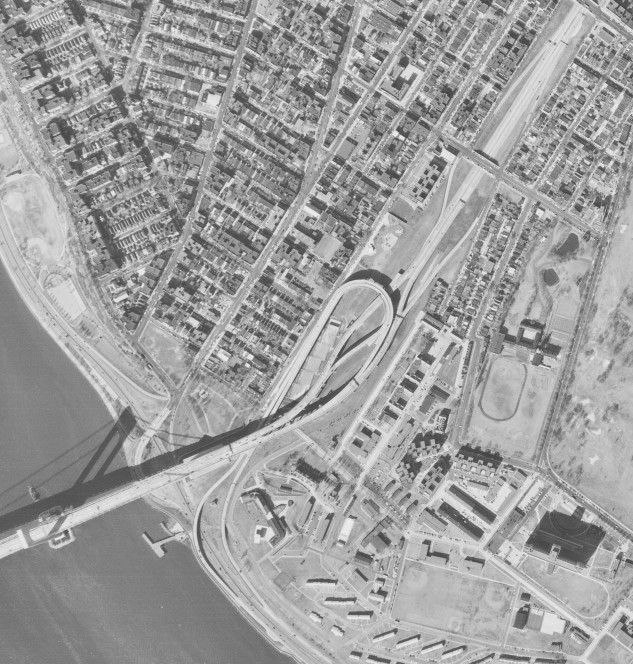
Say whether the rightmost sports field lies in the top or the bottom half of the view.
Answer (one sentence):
It is in the bottom half that the rightmost sports field appears.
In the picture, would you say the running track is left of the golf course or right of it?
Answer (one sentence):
The golf course has the running track on its left side.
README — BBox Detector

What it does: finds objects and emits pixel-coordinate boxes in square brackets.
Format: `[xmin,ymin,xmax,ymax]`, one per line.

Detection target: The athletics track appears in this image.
[479,355,527,421]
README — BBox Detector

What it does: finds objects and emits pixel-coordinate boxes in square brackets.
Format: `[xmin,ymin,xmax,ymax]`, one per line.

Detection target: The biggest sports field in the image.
[523,555,610,619]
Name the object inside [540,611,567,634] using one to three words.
house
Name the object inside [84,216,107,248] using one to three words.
building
